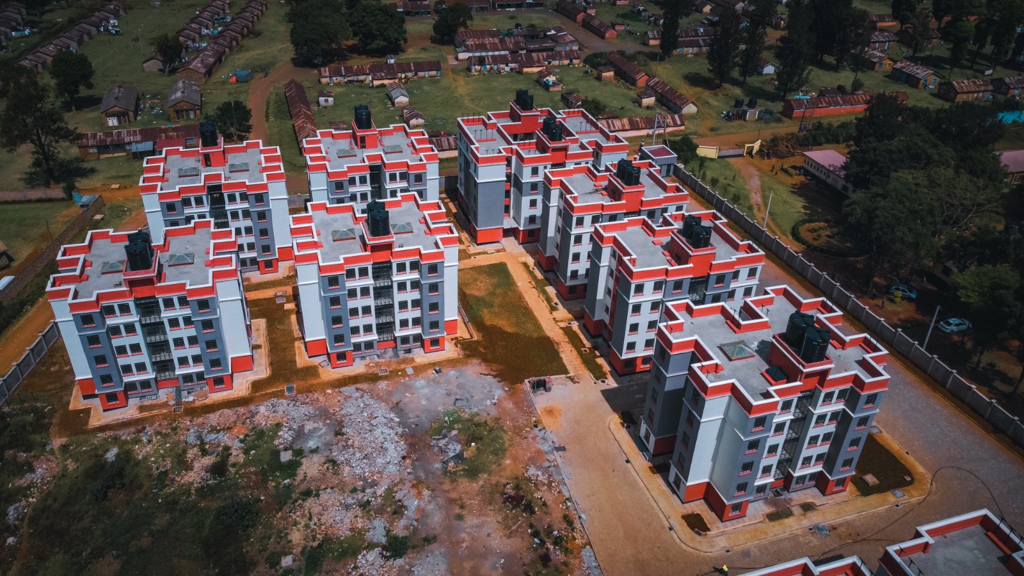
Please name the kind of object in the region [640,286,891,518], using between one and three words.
building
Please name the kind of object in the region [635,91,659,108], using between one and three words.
shed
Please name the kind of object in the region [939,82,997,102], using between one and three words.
house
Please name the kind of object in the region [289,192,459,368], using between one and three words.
building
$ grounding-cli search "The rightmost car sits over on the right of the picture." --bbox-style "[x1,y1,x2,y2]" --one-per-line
[940,317,968,332]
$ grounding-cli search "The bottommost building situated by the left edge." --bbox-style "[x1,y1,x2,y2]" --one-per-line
[46,218,255,411]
